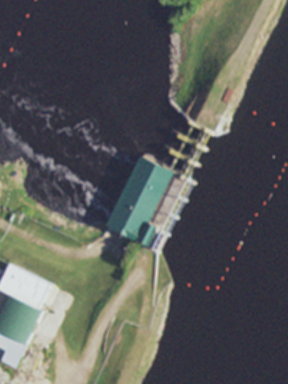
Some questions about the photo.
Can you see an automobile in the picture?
No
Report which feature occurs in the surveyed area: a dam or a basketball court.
dam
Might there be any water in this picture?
Yes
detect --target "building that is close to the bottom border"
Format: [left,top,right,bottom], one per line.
[0,264,60,369]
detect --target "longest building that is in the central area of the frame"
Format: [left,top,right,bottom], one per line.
[108,157,174,242]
